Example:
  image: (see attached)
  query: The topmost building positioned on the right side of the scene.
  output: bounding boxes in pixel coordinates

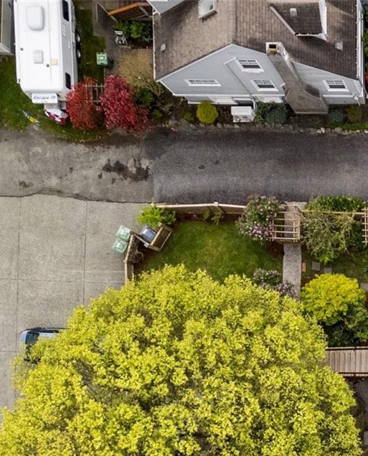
[142,0,368,123]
